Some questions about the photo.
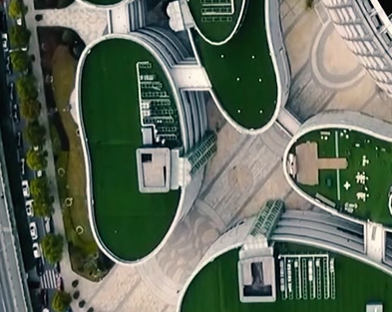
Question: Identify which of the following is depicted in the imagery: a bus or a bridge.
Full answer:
Visible in the photo is a bridge.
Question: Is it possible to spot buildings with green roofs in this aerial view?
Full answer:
Yes, the photo shows a building with a green roof.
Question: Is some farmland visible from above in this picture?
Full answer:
No, farmland can't be seen anywhere here.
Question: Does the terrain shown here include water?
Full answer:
No, no water is visible.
